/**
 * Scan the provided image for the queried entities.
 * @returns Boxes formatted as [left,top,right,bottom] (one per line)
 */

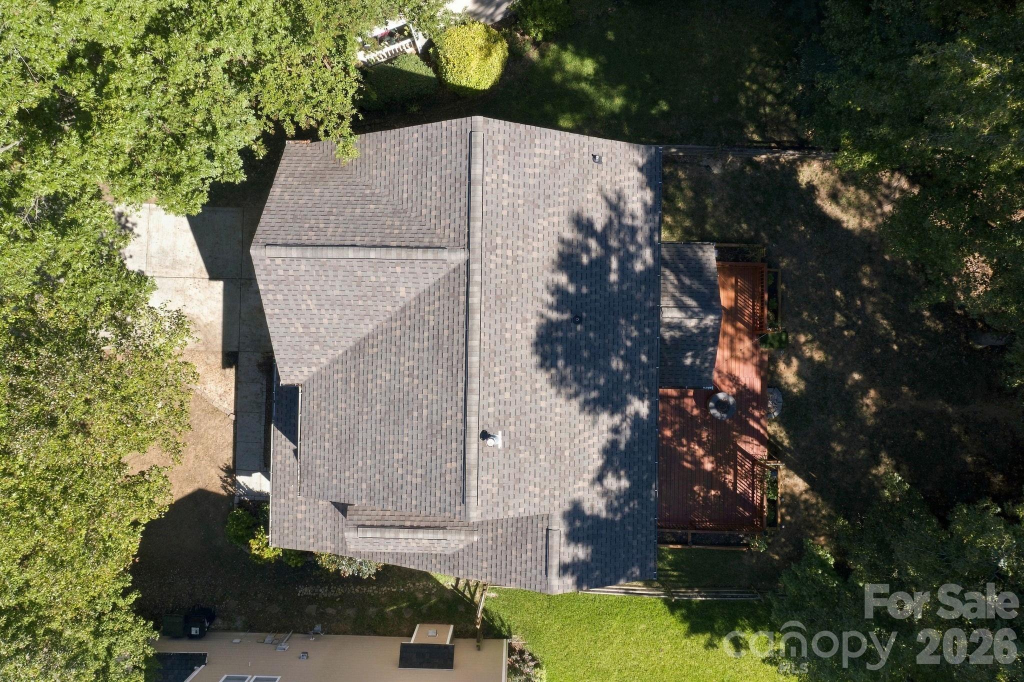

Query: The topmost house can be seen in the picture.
[253,116,727,598]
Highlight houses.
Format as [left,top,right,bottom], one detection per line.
[70,623,505,682]
[253,116,727,598]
